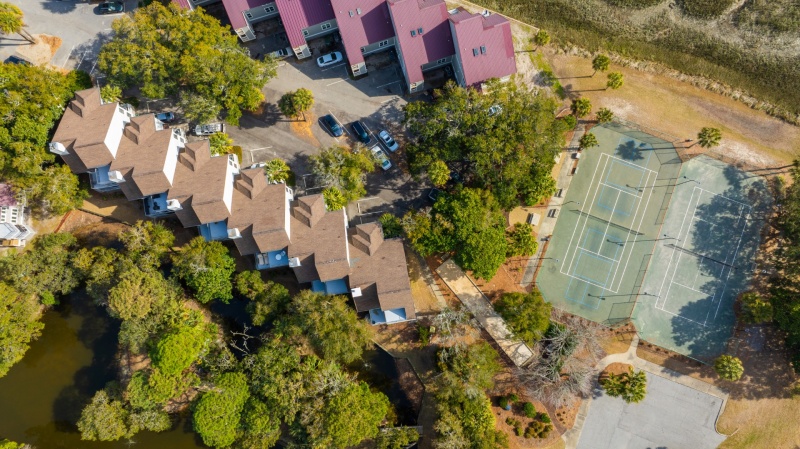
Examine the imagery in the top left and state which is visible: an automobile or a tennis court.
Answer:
automobile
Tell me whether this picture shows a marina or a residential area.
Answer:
residential area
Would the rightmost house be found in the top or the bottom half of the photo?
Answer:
top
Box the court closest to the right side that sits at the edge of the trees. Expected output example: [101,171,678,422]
[630,154,774,364]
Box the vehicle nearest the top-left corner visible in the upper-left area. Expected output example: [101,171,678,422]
[5,53,34,69]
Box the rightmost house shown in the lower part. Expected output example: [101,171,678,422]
[351,222,414,326]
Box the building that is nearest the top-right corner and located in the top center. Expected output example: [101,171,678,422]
[446,0,517,99]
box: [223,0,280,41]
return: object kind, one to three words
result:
house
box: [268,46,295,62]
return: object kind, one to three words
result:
car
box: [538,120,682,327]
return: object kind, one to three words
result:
tennis court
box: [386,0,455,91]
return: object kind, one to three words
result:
house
